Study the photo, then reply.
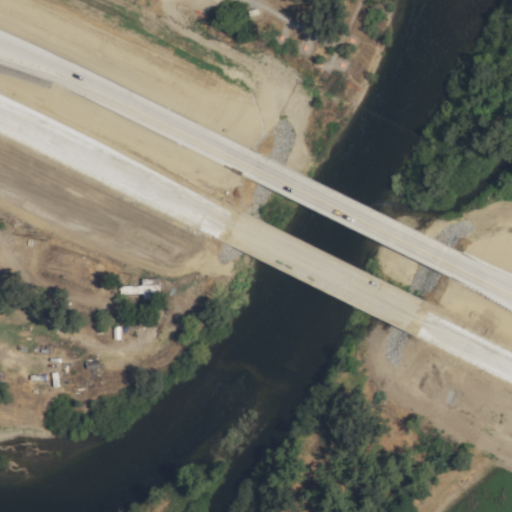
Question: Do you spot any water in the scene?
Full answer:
Yes, there is water in the image.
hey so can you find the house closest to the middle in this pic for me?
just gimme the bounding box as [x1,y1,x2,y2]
[120,278,161,296]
